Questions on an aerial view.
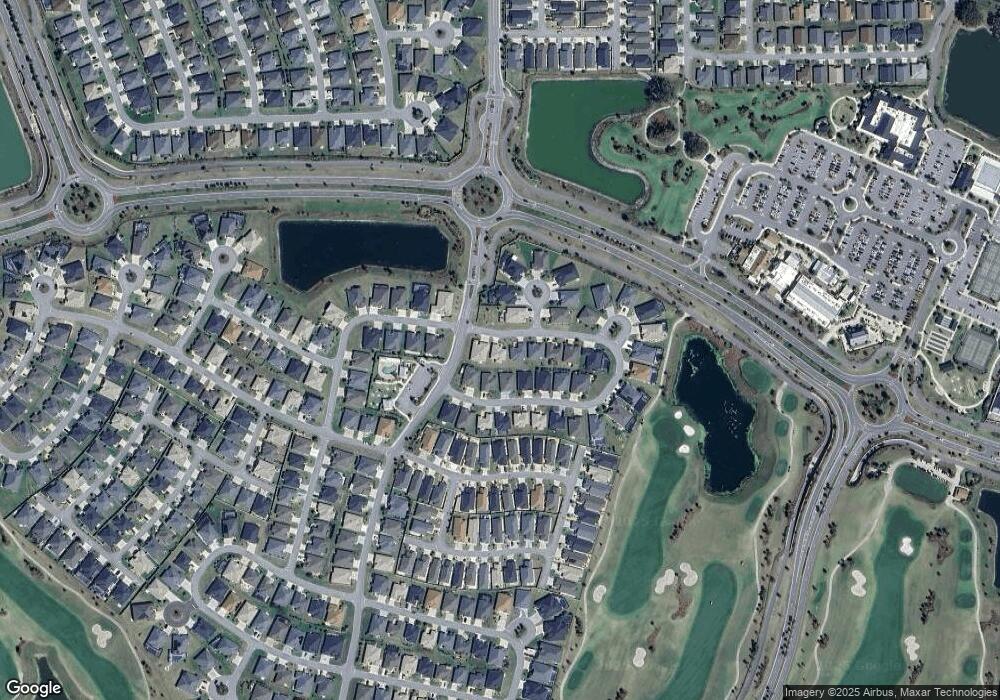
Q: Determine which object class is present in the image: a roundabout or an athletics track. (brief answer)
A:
roundabout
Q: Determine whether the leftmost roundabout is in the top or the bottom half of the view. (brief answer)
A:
top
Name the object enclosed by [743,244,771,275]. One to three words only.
building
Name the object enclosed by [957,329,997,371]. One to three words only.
tennis court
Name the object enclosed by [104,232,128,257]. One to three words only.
house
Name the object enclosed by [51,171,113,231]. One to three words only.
roundabout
